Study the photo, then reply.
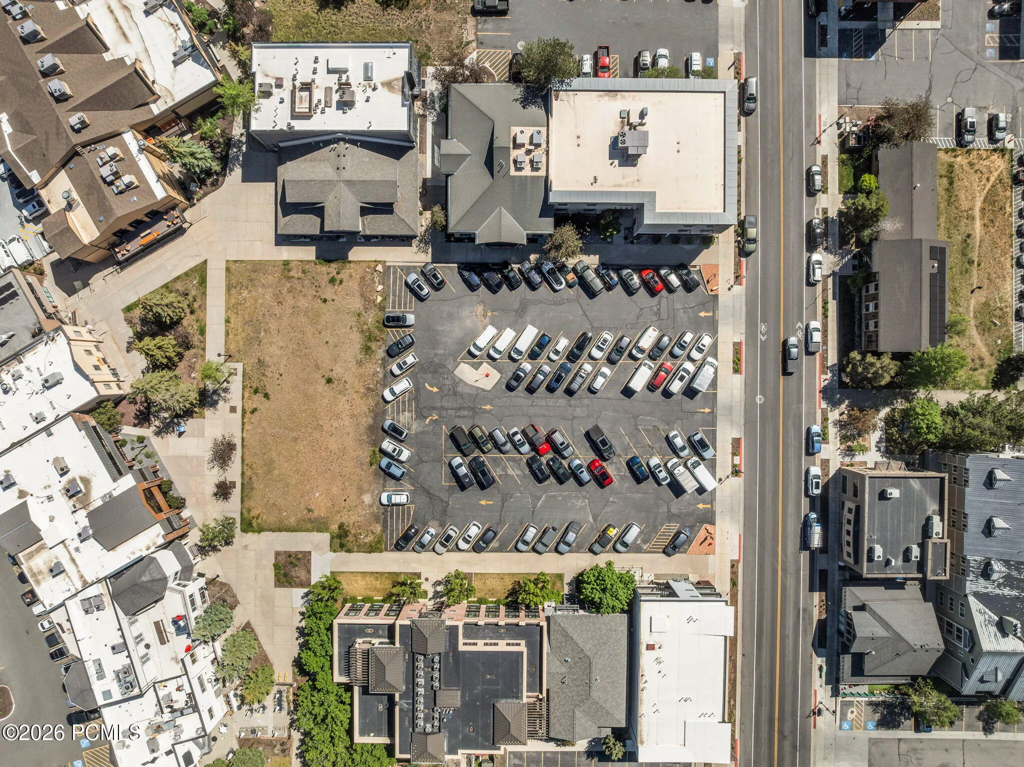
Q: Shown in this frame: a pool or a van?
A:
van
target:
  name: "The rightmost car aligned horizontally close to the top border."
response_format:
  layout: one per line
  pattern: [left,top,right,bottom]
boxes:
[987,2,1020,19]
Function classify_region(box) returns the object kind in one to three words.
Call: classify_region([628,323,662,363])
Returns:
van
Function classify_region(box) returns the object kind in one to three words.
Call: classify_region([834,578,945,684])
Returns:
house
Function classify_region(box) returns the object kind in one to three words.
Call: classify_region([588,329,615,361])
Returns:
car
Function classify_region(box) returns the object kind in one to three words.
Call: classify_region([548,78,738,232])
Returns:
building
